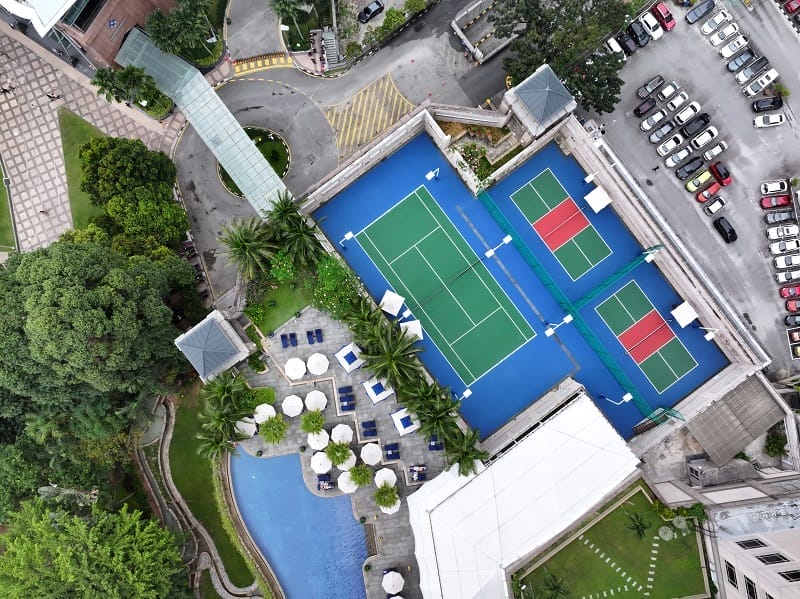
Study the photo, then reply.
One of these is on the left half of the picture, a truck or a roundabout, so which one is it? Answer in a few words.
roundabout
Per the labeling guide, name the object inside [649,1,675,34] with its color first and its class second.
red car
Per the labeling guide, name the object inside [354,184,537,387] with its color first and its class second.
green tennis court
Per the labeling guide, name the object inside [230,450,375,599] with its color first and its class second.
blue swimming pool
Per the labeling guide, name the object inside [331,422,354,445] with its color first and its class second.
white umbrella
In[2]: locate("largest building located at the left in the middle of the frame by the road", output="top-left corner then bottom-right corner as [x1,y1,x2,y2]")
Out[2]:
[173,306,252,388]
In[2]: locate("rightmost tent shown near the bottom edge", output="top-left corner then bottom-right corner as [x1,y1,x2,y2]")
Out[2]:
[407,389,641,599]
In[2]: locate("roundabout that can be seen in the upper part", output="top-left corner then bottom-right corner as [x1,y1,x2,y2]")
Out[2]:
[214,123,291,199]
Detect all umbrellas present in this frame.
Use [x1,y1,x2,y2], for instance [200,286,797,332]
[305,389,327,410]
[381,569,404,593]
[336,470,358,494]
[308,428,329,449]
[235,416,257,437]
[253,401,277,424]
[282,394,304,416]
[308,354,329,374]
[375,466,396,488]
[360,442,382,465]
[331,422,354,445]
[378,493,402,515]
[338,447,358,469]
[309,451,332,473]
[284,356,307,379]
